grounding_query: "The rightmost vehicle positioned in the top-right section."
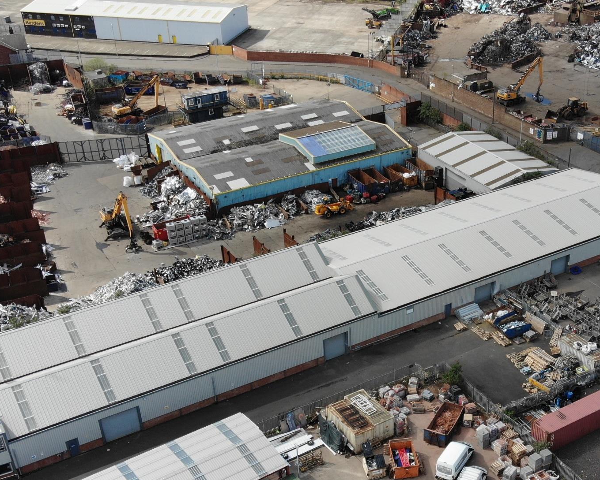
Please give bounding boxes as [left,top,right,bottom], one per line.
[550,96,589,122]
